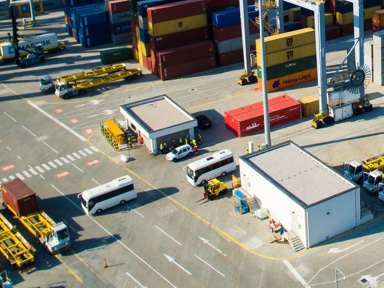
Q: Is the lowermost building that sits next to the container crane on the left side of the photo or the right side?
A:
right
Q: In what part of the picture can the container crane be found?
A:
top right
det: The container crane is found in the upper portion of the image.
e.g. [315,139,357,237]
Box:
[237,0,383,129]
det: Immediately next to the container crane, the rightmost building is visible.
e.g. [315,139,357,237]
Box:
[234,137,369,250]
